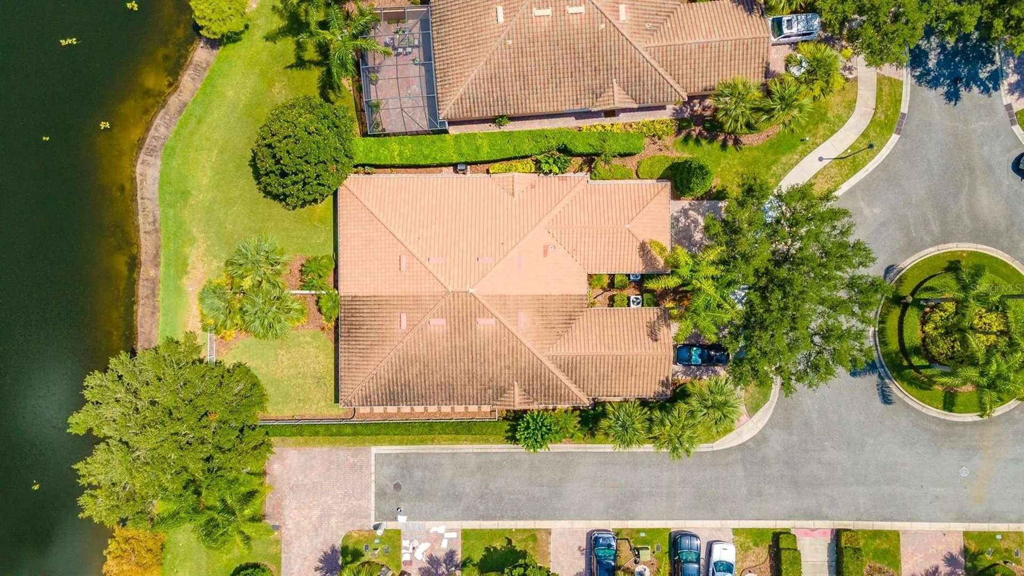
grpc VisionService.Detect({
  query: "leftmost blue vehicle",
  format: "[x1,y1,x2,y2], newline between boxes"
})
[593,529,617,576]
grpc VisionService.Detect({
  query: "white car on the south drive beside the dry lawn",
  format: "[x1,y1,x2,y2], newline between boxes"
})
[711,541,736,576]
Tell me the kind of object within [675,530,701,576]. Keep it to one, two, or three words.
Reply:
car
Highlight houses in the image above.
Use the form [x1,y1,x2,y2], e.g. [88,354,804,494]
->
[338,172,677,412]
[429,0,769,122]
